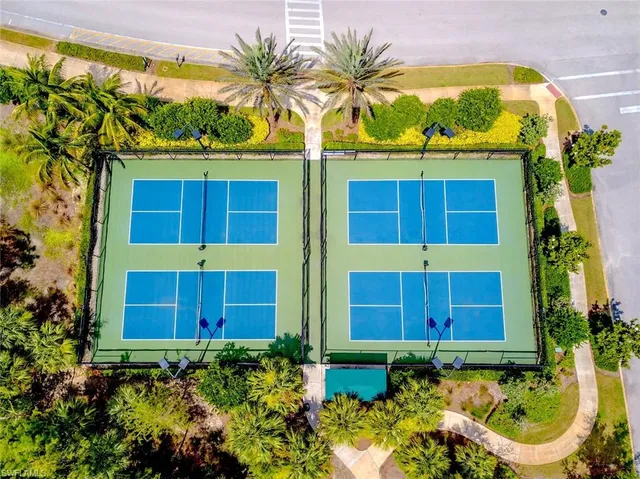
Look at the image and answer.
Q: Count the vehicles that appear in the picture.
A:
none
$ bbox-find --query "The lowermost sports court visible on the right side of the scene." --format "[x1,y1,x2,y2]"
[349,271,506,342]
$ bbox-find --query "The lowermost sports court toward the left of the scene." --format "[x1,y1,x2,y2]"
[121,270,277,340]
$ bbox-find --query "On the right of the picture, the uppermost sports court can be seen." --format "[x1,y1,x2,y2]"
[348,179,499,245]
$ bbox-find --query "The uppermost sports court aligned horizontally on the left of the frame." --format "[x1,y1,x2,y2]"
[128,179,279,245]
